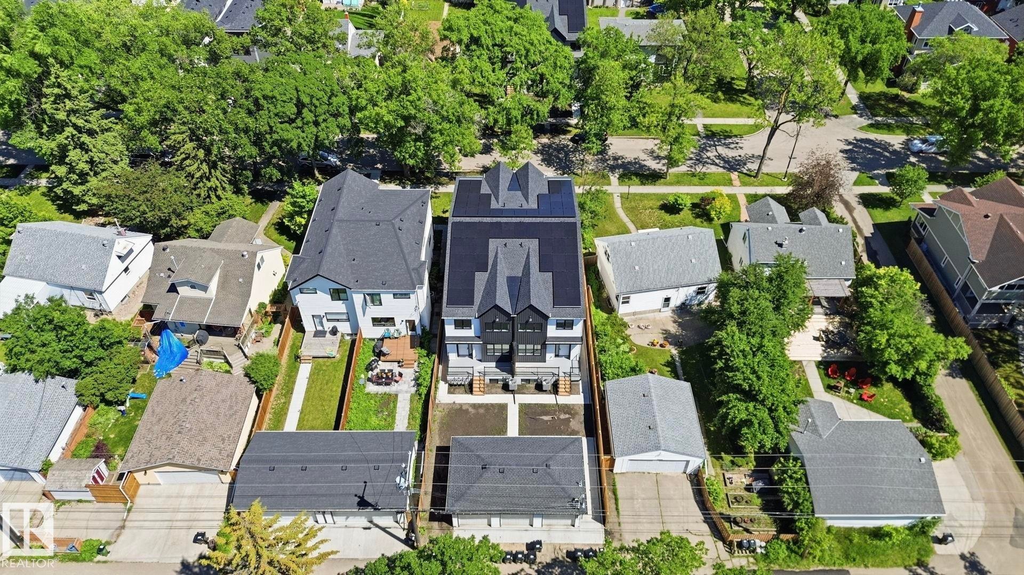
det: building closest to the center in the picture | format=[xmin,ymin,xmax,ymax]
[441,158,586,404]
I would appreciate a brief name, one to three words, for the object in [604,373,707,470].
building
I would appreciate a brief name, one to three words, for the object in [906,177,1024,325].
building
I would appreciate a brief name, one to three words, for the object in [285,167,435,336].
house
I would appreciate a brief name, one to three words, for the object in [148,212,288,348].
house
